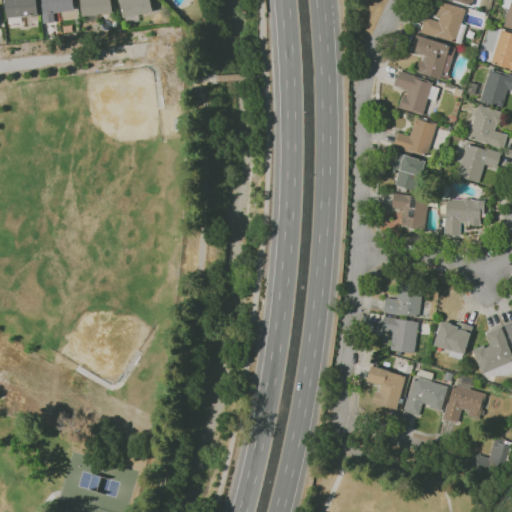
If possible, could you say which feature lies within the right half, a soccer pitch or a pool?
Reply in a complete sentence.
Visible within the right half is a pool.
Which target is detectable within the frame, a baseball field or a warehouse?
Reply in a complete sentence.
It is a baseball field that can be seen here.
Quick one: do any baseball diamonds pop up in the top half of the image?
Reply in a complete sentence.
Yes, the scene does show a baseball diamond in the top half of the image.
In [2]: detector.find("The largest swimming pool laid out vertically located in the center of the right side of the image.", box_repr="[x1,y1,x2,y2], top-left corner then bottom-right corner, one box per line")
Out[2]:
[426,203,439,233]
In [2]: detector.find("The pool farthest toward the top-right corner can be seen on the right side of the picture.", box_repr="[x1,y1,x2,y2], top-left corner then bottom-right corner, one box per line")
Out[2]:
[466,10,488,30]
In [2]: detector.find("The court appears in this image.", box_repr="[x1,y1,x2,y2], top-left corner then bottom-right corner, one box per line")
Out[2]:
[58,452,138,512]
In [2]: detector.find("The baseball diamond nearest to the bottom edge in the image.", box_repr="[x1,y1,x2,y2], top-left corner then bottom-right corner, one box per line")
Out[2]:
[0,222,182,390]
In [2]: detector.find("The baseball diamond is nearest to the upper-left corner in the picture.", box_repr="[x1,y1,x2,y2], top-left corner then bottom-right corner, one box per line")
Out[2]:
[0,66,184,222]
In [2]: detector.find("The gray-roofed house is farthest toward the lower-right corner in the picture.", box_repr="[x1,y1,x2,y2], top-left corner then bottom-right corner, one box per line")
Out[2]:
[478,440,512,469]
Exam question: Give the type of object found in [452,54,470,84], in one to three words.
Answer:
swimming pool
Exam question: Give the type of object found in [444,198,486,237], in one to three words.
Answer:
house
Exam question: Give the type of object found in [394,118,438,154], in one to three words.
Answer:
house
